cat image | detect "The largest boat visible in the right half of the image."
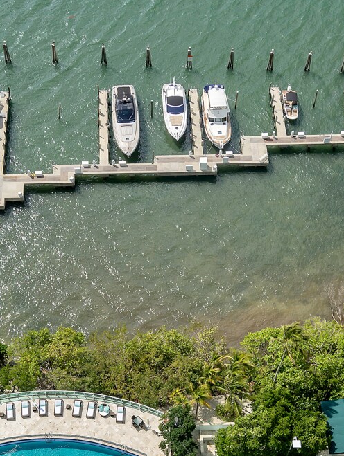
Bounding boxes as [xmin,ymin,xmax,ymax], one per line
[201,73,233,151]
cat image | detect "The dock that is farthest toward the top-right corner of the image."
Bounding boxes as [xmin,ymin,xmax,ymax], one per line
[268,77,288,135]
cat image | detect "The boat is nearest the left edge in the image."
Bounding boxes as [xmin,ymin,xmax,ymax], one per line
[111,88,138,158]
